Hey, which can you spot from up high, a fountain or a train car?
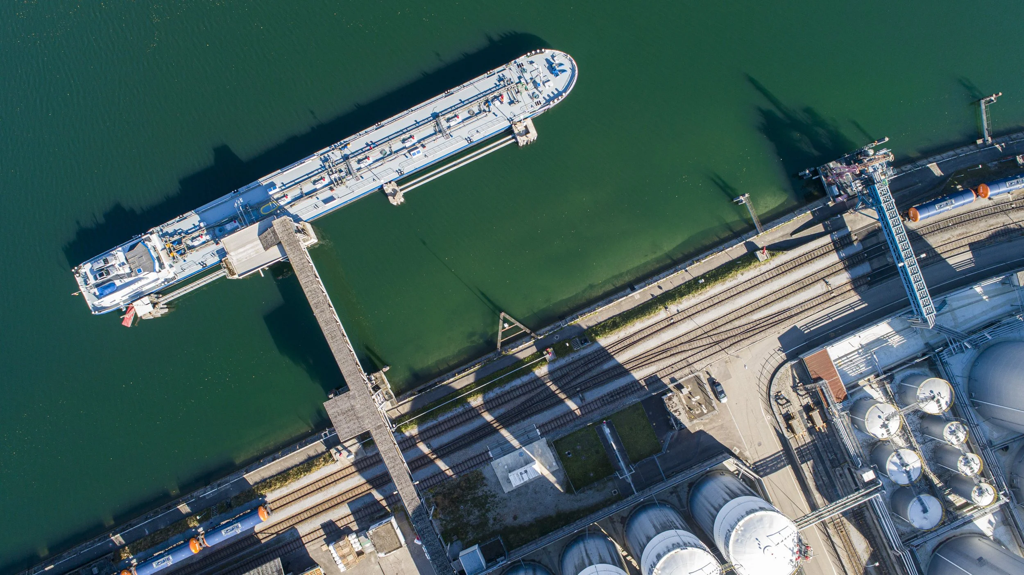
train car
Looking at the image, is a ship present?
Yes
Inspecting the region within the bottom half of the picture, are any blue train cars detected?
Yes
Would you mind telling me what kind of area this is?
industrial area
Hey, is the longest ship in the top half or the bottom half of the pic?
top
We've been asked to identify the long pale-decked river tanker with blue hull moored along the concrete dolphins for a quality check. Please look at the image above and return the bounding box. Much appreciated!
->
[71,46,578,315]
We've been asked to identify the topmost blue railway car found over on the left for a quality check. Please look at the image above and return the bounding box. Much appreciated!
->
[203,501,276,546]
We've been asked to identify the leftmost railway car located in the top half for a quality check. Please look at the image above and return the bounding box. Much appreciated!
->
[901,188,980,223]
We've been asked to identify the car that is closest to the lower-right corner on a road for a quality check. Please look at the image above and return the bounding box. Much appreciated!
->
[712,379,728,404]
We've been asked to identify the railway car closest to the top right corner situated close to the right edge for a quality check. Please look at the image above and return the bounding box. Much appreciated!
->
[974,174,1024,199]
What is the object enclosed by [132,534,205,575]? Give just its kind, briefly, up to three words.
rail car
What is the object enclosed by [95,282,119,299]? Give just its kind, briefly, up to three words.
boat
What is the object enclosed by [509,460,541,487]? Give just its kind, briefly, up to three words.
shed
